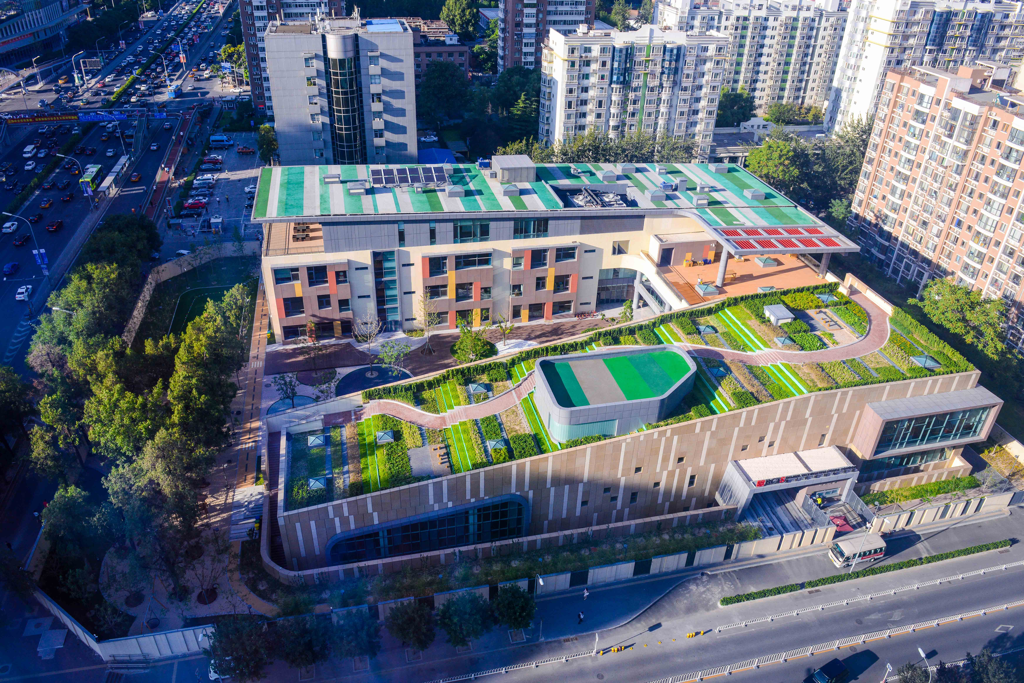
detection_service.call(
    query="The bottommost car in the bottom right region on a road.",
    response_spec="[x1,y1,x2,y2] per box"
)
[801,650,855,683]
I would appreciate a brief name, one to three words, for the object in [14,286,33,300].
car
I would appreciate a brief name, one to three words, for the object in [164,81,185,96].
vehicle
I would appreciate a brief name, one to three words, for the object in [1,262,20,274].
vehicle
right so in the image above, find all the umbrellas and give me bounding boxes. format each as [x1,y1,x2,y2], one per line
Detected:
[830,518,856,541]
